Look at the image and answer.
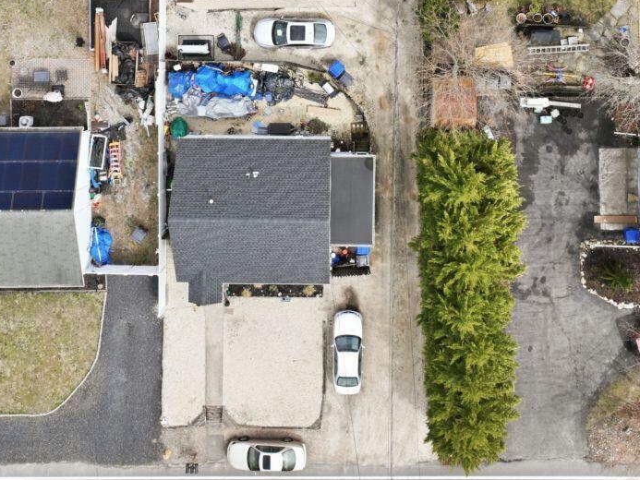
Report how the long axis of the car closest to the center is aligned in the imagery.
from top to bottom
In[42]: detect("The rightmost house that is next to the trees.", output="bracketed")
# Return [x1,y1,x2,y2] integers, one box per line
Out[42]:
[168,136,374,305]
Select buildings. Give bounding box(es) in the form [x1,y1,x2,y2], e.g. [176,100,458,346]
[168,136,374,305]
[0,127,90,291]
